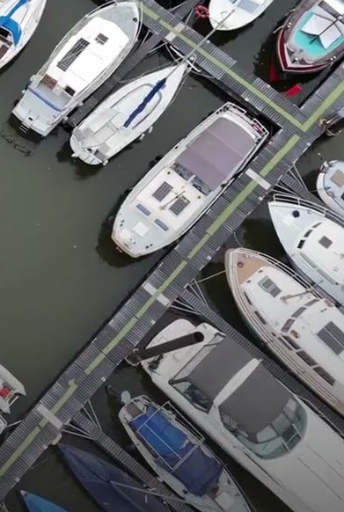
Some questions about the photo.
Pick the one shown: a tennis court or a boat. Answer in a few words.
boat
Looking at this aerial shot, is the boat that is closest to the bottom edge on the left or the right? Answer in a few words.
left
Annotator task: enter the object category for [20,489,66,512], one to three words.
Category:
boat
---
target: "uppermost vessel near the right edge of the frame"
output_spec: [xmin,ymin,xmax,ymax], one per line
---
[271,0,344,78]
